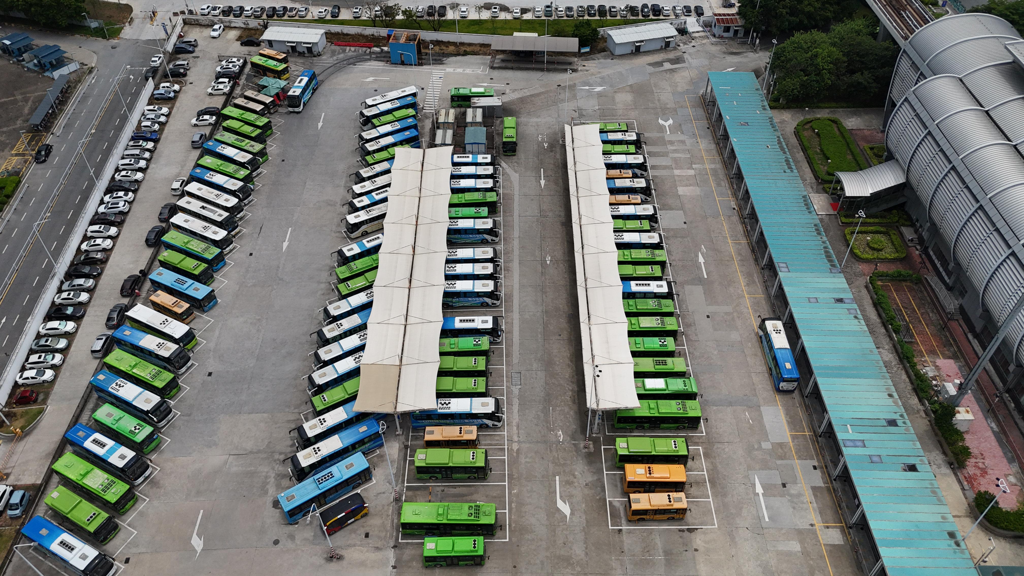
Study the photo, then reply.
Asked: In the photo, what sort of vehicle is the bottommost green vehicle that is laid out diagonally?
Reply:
bus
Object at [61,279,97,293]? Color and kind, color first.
gray car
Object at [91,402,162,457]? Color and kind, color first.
green bus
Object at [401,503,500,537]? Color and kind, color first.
green bus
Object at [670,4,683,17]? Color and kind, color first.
gray vehicle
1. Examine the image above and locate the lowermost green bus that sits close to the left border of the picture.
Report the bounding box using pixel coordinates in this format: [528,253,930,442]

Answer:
[45,486,118,545]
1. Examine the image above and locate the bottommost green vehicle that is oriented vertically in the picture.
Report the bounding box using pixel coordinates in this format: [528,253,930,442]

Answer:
[502,118,518,155]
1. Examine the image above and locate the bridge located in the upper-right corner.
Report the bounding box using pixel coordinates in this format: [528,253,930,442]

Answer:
[857,0,938,70]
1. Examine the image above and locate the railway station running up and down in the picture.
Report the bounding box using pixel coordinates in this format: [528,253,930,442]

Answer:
[877,10,1024,423]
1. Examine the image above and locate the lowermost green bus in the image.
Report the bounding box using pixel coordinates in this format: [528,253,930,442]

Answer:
[416,535,496,570]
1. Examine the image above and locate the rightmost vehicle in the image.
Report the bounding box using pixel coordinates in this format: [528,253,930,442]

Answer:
[758,314,800,393]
